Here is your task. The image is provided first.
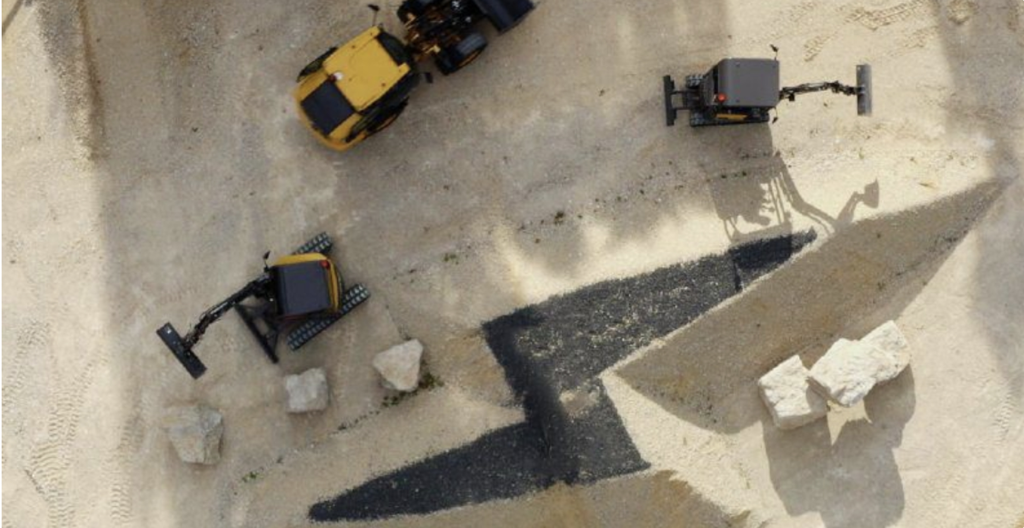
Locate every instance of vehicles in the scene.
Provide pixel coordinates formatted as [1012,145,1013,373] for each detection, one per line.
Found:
[661,46,874,129]
[158,232,372,380]
[296,0,540,150]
